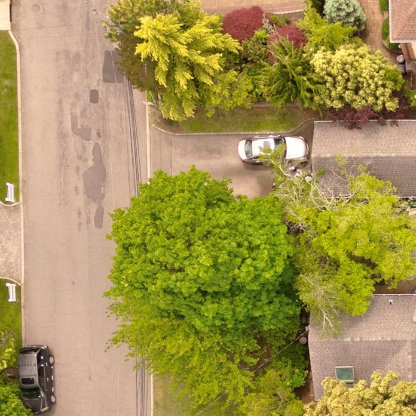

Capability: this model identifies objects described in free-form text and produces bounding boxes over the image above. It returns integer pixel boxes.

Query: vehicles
[238,134,310,166]
[19,345,57,412]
